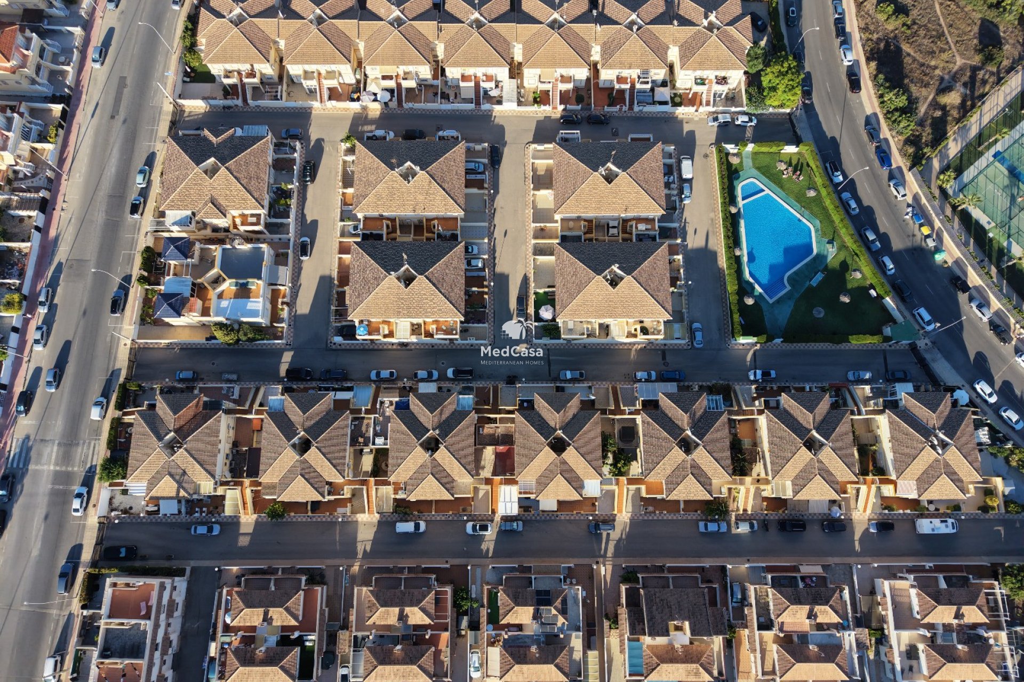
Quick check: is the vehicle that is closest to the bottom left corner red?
No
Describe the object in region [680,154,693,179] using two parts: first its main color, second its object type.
white vehicle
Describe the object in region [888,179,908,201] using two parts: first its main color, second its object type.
white car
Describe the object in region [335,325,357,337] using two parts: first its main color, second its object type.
black vehicle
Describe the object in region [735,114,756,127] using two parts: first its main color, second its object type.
white vehicle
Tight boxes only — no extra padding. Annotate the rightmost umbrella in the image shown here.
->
[952,390,967,405]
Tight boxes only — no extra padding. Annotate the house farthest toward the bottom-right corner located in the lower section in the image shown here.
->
[881,571,1005,682]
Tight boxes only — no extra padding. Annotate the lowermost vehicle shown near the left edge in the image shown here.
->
[40,651,64,682]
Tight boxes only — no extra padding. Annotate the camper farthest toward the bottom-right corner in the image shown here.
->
[910,518,957,534]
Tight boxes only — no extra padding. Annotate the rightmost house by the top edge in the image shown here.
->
[669,0,755,107]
